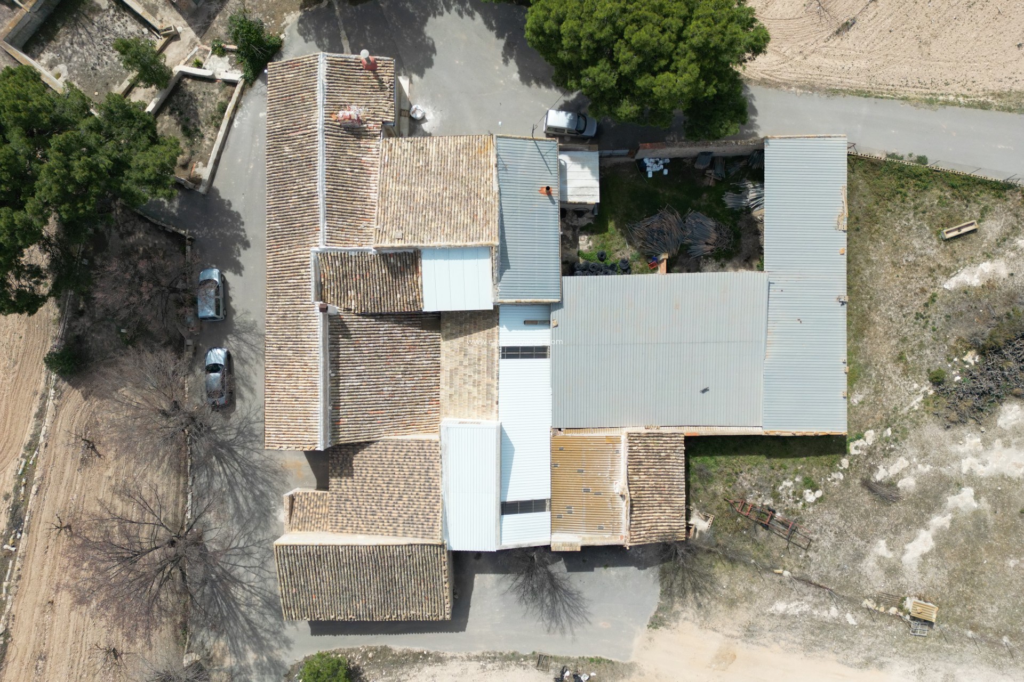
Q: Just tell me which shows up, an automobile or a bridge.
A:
automobile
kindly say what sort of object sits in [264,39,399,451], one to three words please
house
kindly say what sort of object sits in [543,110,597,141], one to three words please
vehicle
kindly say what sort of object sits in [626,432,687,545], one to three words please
shed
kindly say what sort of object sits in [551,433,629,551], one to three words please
shed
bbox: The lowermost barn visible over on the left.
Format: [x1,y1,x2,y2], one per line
[273,532,455,621]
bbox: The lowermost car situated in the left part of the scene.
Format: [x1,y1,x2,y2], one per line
[203,347,235,409]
